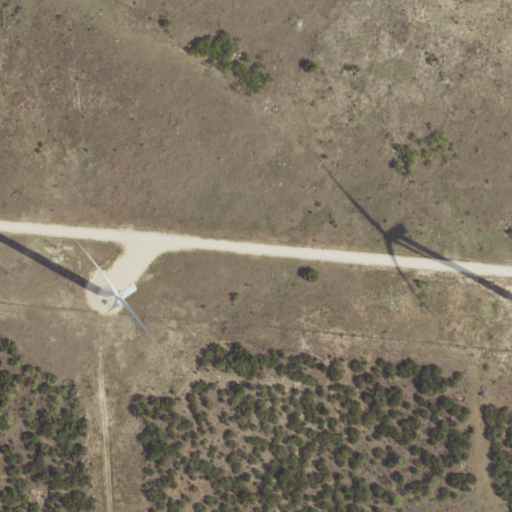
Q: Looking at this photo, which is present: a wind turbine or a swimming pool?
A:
wind turbine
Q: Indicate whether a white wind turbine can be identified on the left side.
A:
Yes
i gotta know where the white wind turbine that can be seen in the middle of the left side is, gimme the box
[66,227,166,359]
